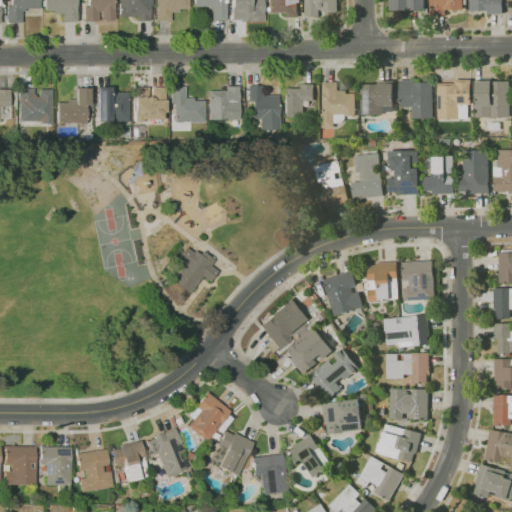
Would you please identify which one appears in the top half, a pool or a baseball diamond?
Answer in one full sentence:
The one visible in the top half is a pool.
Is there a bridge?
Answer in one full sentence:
No, this view has no bridge in it.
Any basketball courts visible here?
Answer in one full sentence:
Yes, this view includes a basketball court.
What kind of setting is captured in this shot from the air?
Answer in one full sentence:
It's a residential area.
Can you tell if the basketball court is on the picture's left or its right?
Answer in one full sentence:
The basketball court is on the left side of the image.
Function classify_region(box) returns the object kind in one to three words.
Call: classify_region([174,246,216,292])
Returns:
building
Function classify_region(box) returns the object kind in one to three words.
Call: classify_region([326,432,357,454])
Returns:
swimming pool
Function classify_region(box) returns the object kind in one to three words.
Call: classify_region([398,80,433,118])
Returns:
house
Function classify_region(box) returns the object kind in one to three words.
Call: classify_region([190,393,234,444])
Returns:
house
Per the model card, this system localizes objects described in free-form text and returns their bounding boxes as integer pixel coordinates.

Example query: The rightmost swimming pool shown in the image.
[400,300,428,316]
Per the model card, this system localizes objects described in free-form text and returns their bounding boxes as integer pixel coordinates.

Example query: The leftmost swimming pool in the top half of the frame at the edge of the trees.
[306,140,332,159]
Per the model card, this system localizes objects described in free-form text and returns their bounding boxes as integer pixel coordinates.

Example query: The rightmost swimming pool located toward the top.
[361,116,396,136]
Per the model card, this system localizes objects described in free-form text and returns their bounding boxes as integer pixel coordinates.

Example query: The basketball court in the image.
[95,194,151,287]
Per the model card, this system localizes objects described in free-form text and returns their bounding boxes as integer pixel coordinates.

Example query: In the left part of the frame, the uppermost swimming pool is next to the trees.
[178,424,200,454]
